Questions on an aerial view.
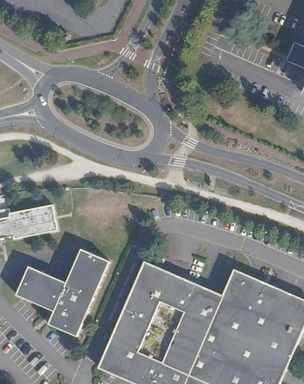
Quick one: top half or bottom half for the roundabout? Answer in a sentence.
It is in the top half that the roundabout appears.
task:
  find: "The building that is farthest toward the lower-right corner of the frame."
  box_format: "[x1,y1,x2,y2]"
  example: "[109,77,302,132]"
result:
[98,262,304,384]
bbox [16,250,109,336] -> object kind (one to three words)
building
